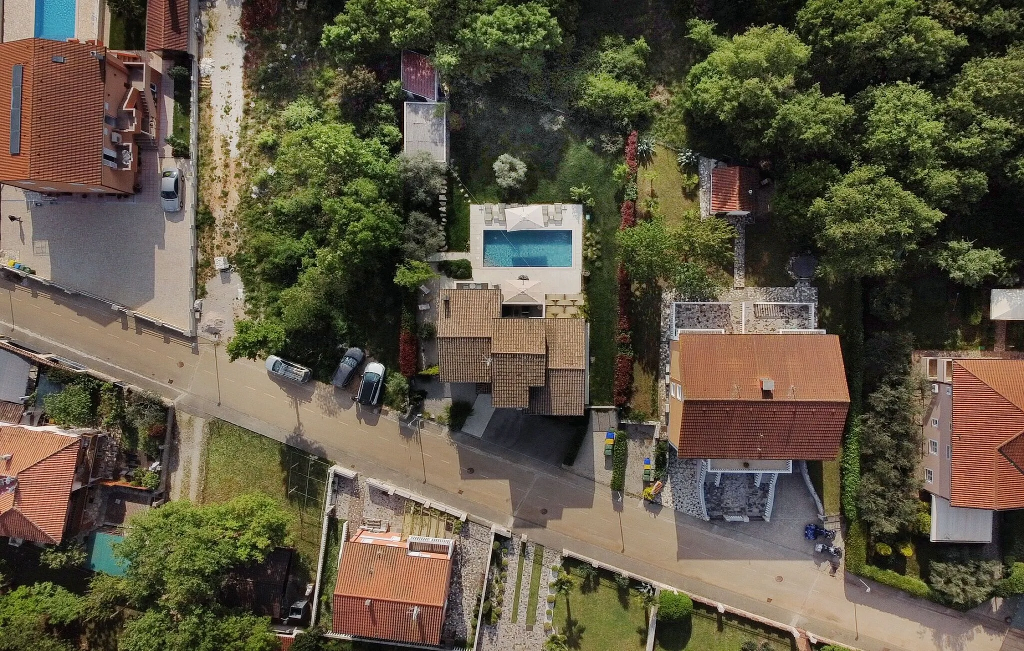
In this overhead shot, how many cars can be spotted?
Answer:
4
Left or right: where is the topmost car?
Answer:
left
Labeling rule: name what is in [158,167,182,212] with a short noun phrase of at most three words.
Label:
car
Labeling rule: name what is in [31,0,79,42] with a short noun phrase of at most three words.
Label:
swimming pool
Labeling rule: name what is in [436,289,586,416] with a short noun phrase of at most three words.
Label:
house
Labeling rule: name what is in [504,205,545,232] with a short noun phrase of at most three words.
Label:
umbrella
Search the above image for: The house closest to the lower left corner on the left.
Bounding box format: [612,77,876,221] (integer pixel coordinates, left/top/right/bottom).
[0,422,101,544]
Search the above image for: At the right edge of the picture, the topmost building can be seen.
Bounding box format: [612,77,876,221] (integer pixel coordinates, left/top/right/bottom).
[971,289,1024,320]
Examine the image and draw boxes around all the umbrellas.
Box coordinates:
[502,280,542,304]
[504,205,545,232]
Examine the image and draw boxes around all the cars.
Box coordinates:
[263,357,311,387]
[357,362,384,408]
[158,167,182,212]
[332,349,361,392]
